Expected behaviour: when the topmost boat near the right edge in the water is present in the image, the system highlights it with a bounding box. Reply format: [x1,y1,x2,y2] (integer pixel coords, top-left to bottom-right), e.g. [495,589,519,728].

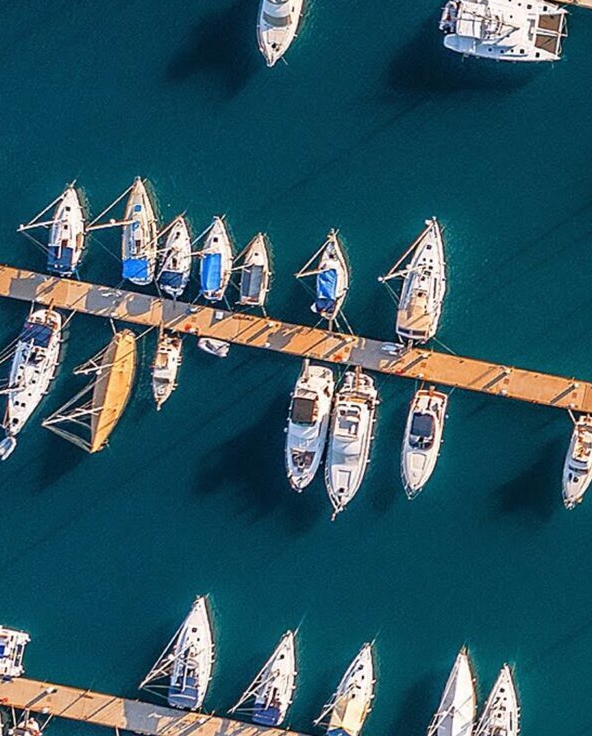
[444,0,574,69]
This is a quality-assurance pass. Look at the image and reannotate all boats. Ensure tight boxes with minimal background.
[471,663,522,736]
[312,638,379,736]
[561,410,592,513]
[400,381,458,502]
[140,593,219,711]
[139,213,198,306]
[148,324,184,414]
[10,707,51,736]
[0,301,77,437]
[323,366,384,517]
[258,0,310,69]
[285,359,344,496]
[426,647,480,736]
[0,436,15,463]
[295,227,354,335]
[86,174,163,297]
[444,0,574,69]
[197,335,230,355]
[45,319,155,451]
[18,182,91,283]
[436,1,458,37]
[227,629,302,729]
[0,626,32,676]
[227,230,276,319]
[380,216,456,353]
[183,213,236,312]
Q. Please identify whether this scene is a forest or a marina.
marina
